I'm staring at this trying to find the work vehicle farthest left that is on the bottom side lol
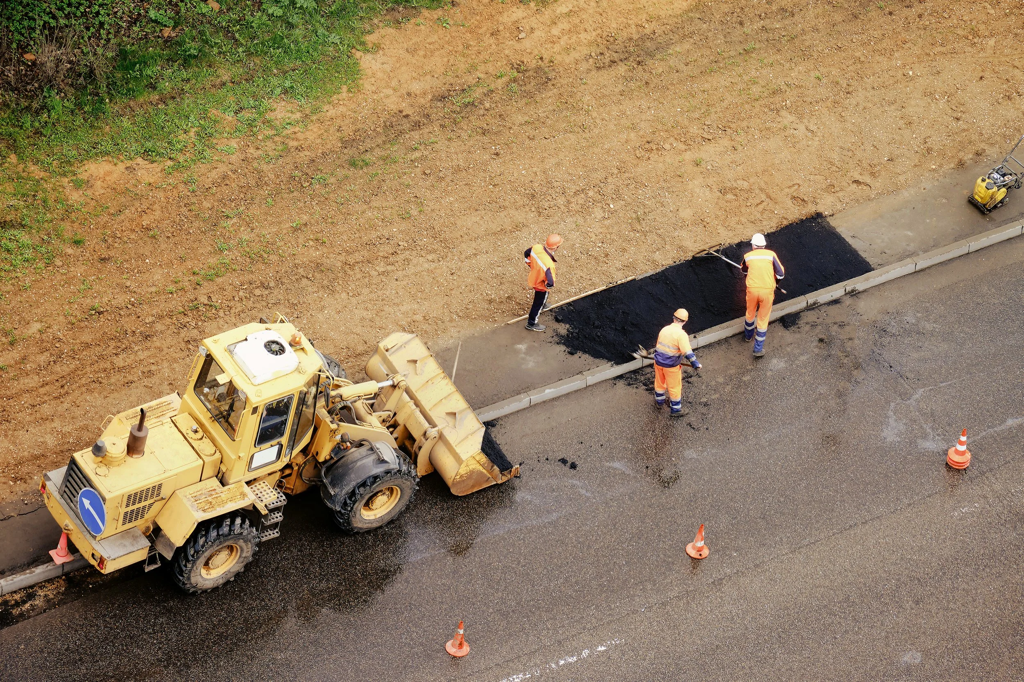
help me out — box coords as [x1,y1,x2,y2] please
[39,309,524,594]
